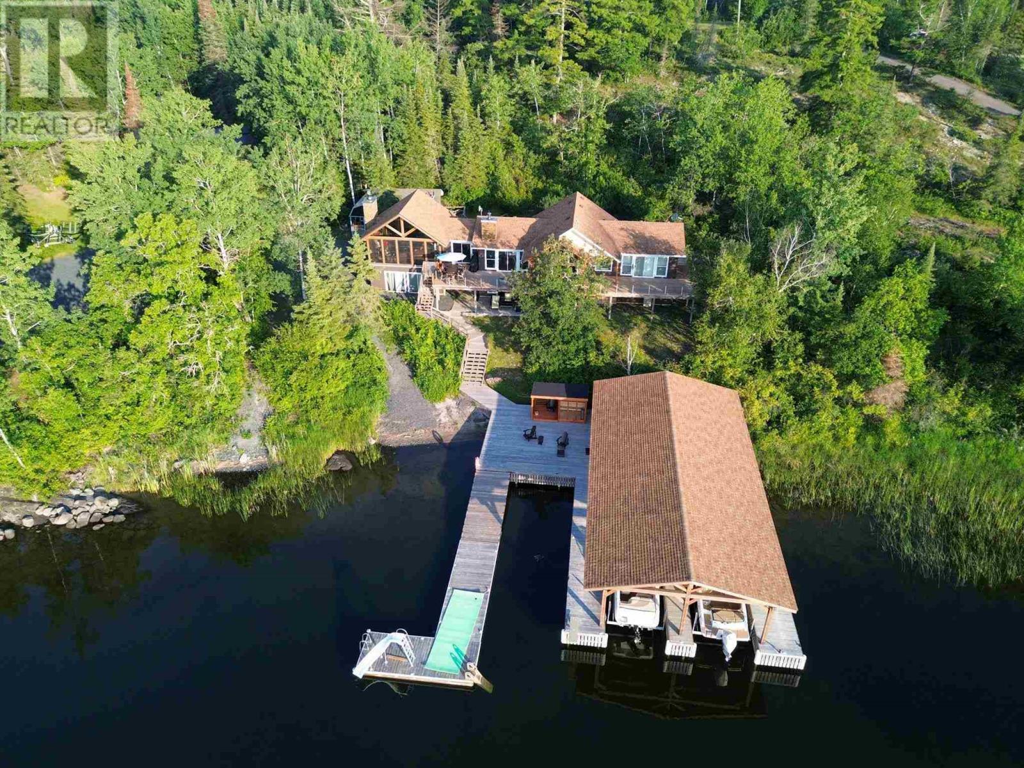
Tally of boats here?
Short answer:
2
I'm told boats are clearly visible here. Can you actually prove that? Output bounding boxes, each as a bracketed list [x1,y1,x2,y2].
[694,588,749,664]
[612,588,662,654]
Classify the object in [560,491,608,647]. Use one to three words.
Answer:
pier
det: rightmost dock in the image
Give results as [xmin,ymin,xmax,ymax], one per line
[745,601,810,671]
